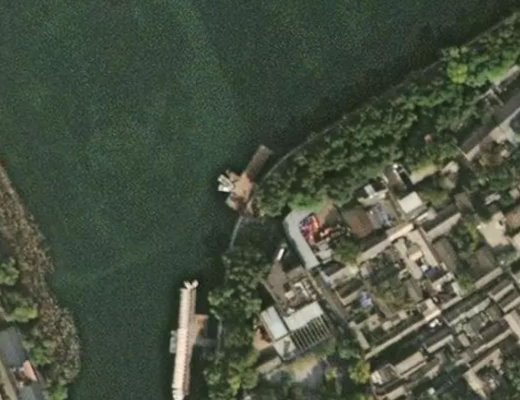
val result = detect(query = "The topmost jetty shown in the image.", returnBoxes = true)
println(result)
[245,145,273,178]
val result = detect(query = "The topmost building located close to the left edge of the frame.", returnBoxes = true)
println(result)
[0,325,32,365]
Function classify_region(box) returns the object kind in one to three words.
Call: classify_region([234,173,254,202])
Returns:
pier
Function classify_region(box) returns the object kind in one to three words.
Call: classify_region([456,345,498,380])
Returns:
house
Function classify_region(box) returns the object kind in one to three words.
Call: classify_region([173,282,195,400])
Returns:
boat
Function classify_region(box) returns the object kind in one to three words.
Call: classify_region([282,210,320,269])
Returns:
building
